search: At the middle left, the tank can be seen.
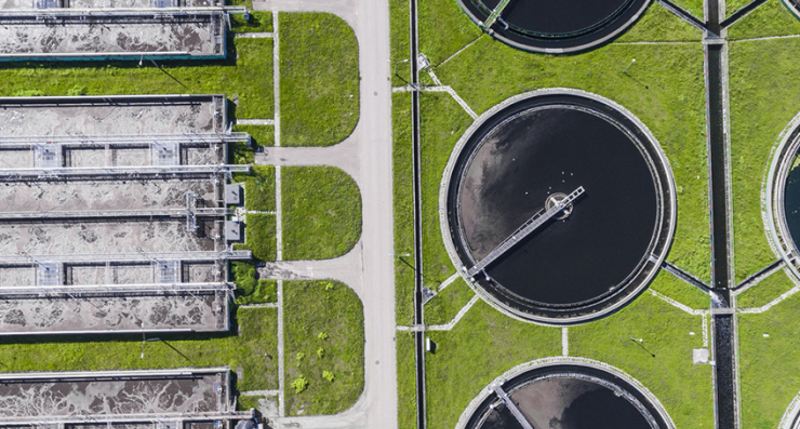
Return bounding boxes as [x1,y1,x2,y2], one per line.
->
[0,95,254,335]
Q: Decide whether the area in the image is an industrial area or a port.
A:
industrial area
